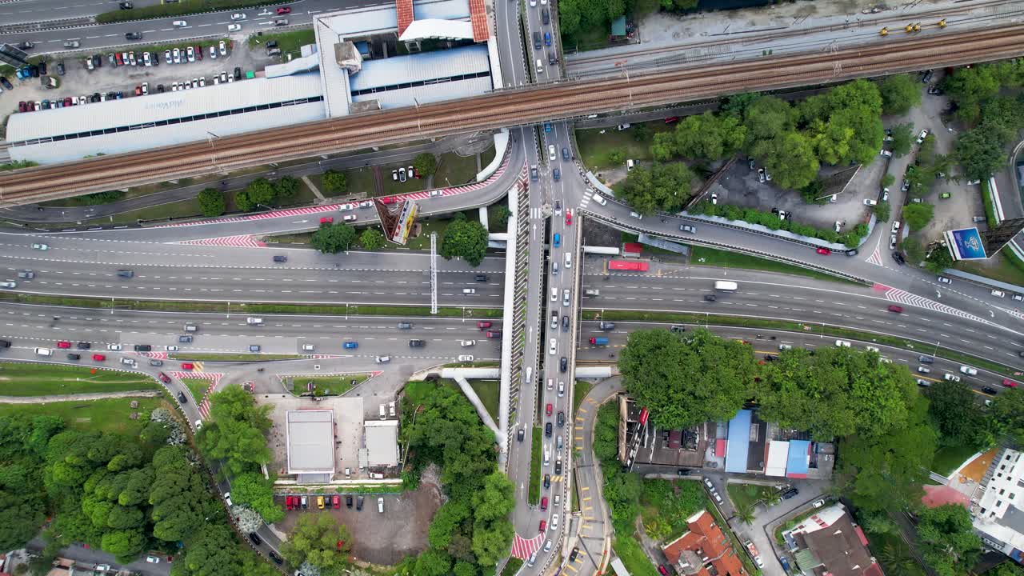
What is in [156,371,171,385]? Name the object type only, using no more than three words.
car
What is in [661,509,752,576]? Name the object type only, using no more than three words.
house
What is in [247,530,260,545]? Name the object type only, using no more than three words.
vehicle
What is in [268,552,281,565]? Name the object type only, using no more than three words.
vehicle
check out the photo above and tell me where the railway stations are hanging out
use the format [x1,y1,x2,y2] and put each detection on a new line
[0,0,504,168]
